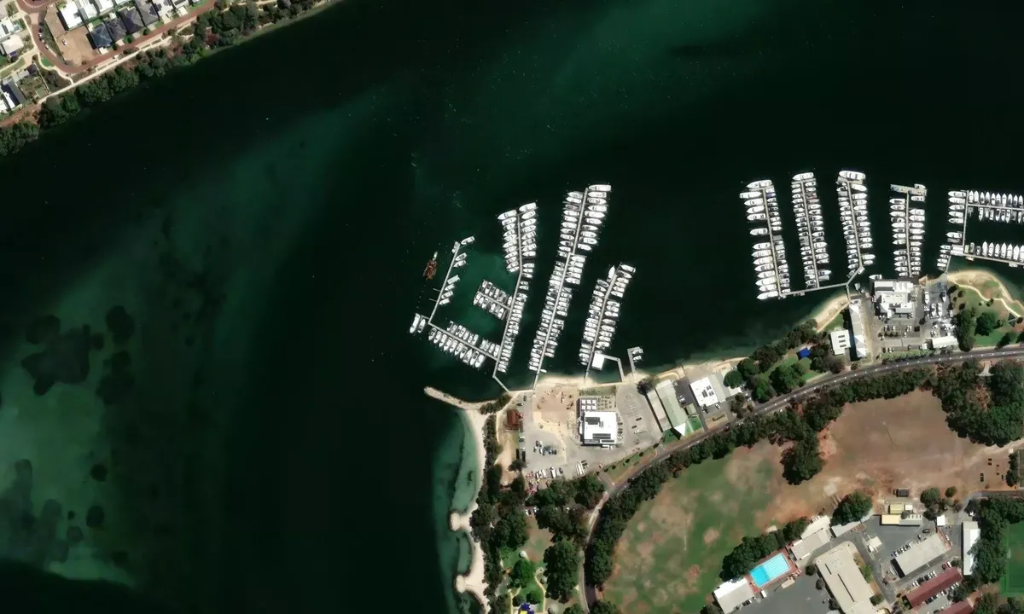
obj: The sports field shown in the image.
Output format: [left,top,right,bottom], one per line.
[599,383,1024,614]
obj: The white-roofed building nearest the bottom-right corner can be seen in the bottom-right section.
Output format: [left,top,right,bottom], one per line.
[963,522,980,575]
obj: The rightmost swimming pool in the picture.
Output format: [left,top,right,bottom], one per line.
[746,546,801,595]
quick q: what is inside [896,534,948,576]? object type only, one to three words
building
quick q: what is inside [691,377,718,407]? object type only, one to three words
building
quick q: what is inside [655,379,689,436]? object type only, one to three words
shed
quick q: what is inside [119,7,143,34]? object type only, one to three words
house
